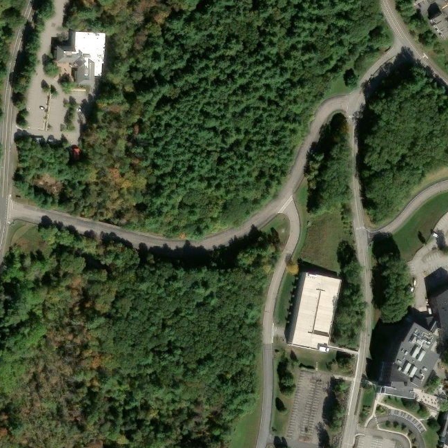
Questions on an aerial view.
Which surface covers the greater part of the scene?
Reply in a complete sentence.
The largest share of the image is taken up by trees.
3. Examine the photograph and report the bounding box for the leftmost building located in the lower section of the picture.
[287,272,342,351]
